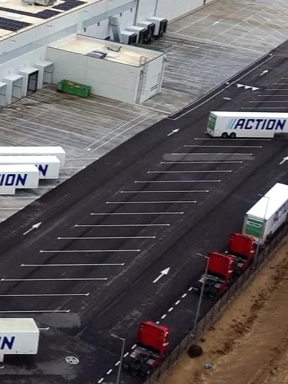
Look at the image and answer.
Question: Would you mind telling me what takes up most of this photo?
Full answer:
The scene is dominated by paved ground.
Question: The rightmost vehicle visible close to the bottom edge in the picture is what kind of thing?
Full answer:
Specifically, the rightmost vehicle visible close to the bottom edge is a truck.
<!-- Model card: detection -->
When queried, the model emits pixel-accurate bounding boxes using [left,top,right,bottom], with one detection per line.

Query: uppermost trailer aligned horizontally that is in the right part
[207,111,288,139]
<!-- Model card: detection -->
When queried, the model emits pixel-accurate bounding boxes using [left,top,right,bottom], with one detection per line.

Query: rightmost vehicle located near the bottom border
[116,327,168,382]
